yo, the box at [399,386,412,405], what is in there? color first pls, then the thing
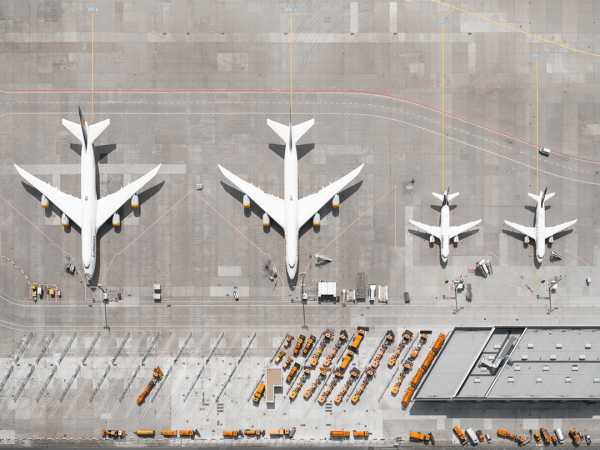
orange vehicle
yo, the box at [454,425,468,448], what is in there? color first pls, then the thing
orange vehicle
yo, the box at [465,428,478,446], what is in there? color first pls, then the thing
white vehicle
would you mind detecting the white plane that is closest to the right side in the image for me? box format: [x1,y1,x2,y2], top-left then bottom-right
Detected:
[504,186,578,261]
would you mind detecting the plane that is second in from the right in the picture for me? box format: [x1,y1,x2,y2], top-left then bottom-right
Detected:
[409,188,482,261]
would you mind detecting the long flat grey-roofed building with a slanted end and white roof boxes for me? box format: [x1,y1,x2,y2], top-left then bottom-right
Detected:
[412,325,600,400]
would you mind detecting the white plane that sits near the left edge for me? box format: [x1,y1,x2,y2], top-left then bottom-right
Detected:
[15,105,161,279]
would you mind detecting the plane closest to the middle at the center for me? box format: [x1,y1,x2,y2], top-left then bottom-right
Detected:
[218,108,363,279]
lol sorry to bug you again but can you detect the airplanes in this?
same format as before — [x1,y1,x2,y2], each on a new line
[504,186,578,261]
[15,105,161,279]
[409,188,482,261]
[218,108,363,279]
